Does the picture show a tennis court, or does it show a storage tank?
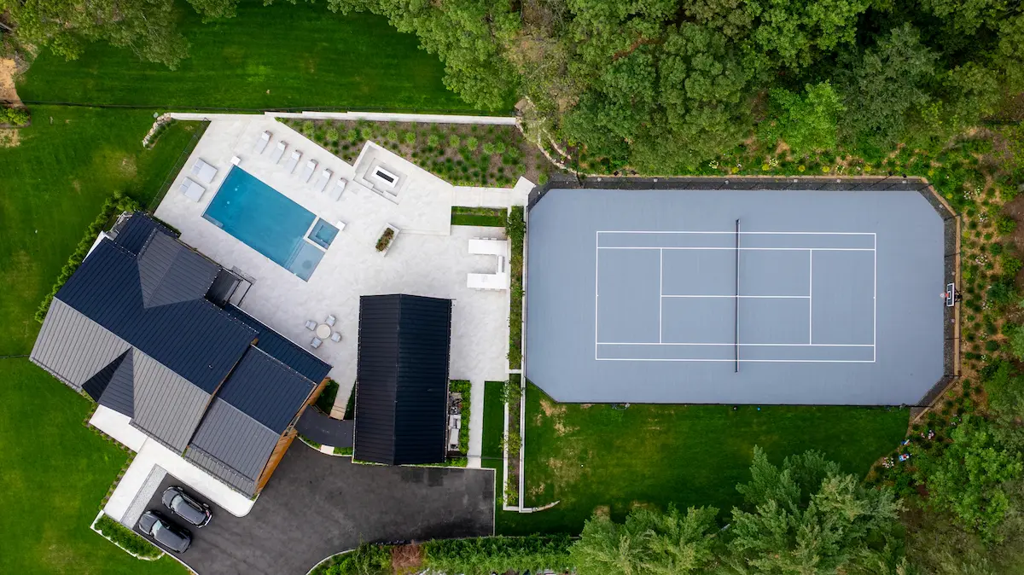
tennis court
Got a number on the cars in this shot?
2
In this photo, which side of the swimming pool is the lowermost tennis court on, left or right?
to its right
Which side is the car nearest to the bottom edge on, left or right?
left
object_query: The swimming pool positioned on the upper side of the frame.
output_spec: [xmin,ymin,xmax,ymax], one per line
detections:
[199,164,341,285]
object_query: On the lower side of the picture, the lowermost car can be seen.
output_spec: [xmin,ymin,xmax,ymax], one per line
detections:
[139,510,196,556]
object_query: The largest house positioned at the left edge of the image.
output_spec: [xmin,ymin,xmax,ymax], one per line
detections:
[29,211,335,501]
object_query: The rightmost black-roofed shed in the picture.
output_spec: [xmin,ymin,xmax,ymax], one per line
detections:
[352,292,452,465]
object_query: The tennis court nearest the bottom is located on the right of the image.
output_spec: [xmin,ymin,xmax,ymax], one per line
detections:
[527,189,945,405]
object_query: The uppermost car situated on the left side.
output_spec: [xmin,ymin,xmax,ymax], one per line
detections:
[161,485,218,530]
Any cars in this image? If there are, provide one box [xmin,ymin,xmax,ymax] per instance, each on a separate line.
[161,485,218,530]
[139,510,196,556]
